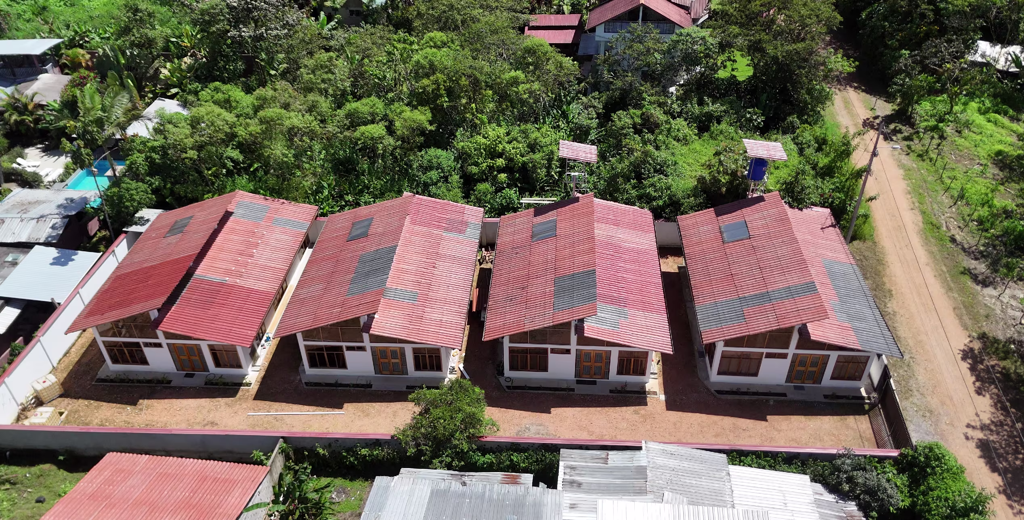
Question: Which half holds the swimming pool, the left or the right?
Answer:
left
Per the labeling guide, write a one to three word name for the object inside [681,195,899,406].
house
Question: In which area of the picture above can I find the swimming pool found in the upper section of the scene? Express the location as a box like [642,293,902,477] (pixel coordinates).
[59,147,156,209]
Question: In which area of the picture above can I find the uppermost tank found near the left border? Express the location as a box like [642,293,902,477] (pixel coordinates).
[30,372,65,404]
